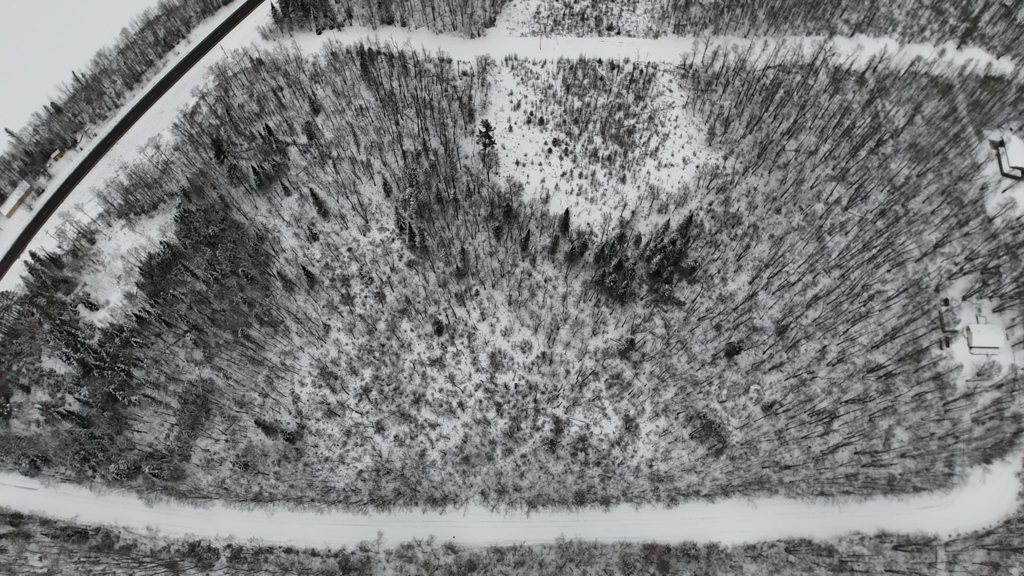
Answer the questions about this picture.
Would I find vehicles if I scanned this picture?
No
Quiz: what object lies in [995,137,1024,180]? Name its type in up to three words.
house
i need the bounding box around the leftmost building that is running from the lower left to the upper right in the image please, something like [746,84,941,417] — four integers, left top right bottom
[0,178,33,227]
